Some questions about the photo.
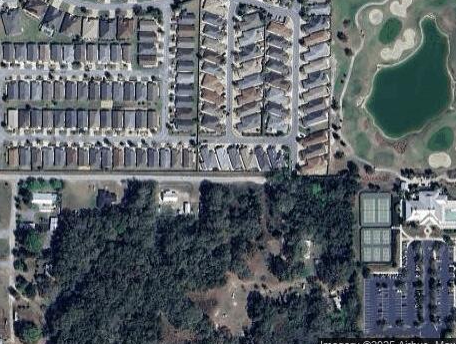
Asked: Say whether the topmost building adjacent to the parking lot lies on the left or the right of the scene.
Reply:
right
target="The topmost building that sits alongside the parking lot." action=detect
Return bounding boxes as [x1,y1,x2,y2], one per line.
[404,191,444,227]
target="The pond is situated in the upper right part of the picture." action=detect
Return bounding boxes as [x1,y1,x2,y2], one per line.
[366,18,453,138]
